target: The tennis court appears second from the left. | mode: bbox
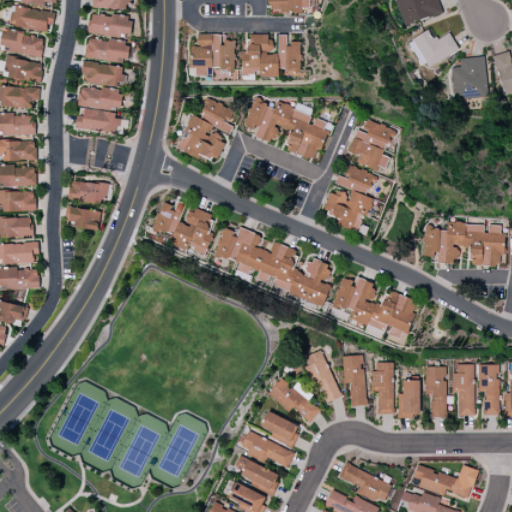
[81,397,138,471]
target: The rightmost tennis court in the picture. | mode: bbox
[150,412,208,487]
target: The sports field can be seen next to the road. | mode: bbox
[76,267,268,432]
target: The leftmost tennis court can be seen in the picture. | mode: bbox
[52,380,108,455]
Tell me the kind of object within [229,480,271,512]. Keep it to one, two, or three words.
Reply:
house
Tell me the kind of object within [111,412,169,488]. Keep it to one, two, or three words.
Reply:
tennis court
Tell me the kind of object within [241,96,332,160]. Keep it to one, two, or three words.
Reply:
house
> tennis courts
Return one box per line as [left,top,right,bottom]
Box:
[111,412,169,488]
[52,380,108,455]
[81,397,138,471]
[150,412,208,487]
